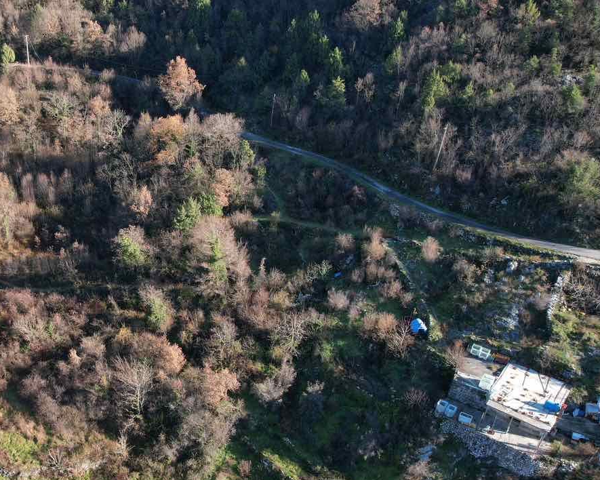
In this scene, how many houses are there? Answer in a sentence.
Altogether the scene contains 1 house.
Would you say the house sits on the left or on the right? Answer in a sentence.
It is on the right.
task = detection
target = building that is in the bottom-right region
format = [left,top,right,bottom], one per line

[478,363,572,455]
